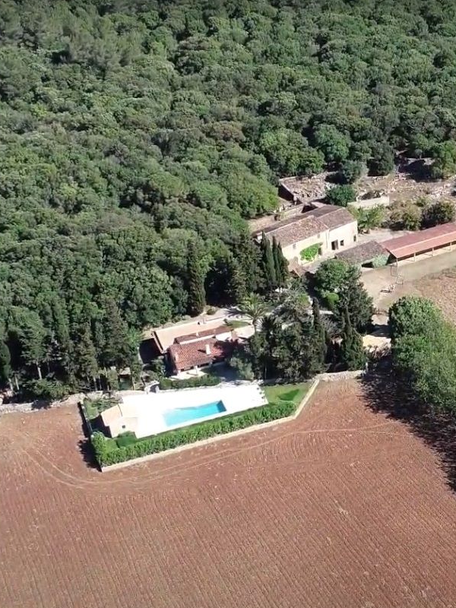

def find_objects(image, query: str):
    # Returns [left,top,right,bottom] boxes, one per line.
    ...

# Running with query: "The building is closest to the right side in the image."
[376,223,456,266]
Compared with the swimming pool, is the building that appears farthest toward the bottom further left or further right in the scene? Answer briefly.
left of it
